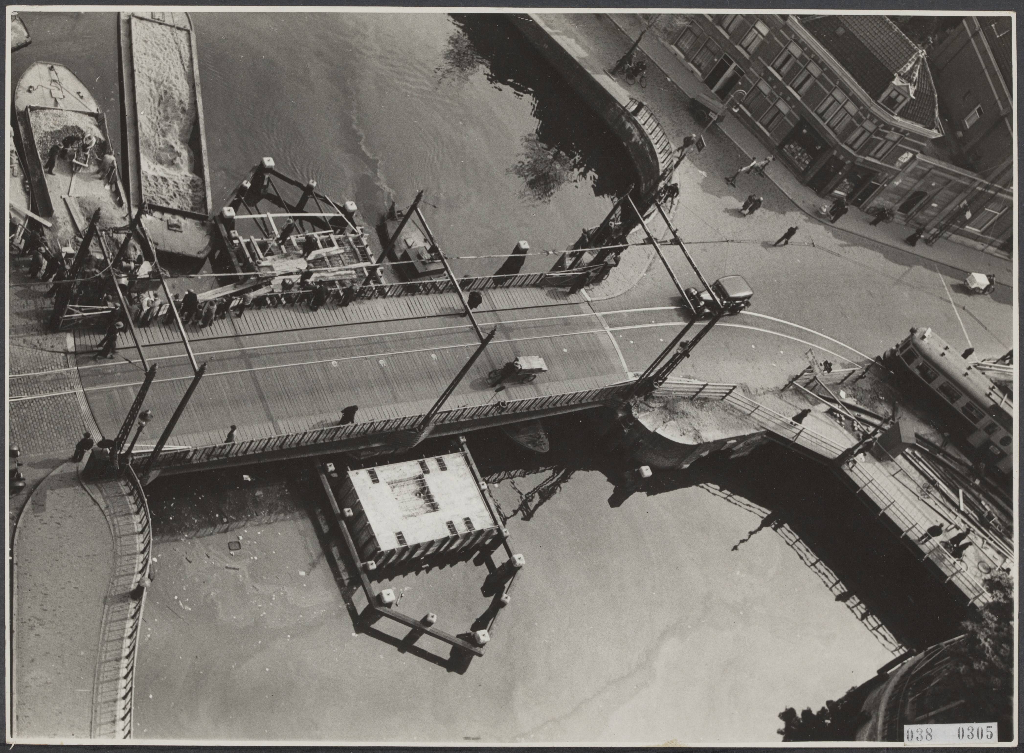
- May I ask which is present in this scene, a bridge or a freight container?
bridge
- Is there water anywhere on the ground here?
Yes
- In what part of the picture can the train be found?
right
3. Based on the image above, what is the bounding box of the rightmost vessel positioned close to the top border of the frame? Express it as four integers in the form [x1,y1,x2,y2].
[114,0,214,267]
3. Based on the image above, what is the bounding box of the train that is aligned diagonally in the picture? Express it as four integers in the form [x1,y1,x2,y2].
[882,325,1024,502]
